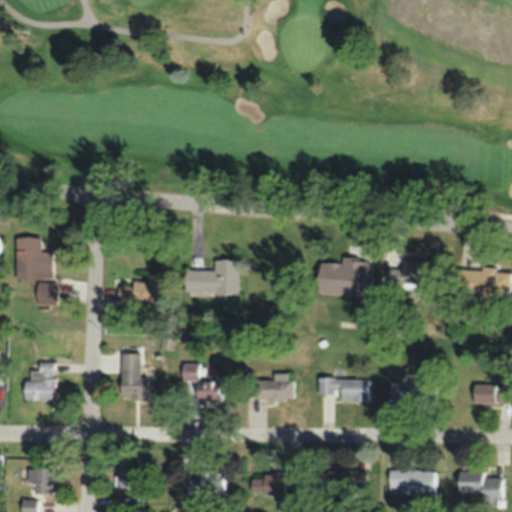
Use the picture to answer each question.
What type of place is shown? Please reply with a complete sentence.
This image shows a golf course.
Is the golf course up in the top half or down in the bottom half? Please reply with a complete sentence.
You can find the golf course in the top half.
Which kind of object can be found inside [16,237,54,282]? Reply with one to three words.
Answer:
house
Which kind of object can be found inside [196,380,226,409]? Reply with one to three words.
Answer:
house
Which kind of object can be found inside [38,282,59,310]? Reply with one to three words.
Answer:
building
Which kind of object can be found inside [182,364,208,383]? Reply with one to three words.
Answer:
building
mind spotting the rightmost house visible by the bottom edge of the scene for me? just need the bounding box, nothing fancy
[460,467,509,510]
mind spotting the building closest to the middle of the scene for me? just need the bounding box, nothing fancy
[186,260,240,298]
